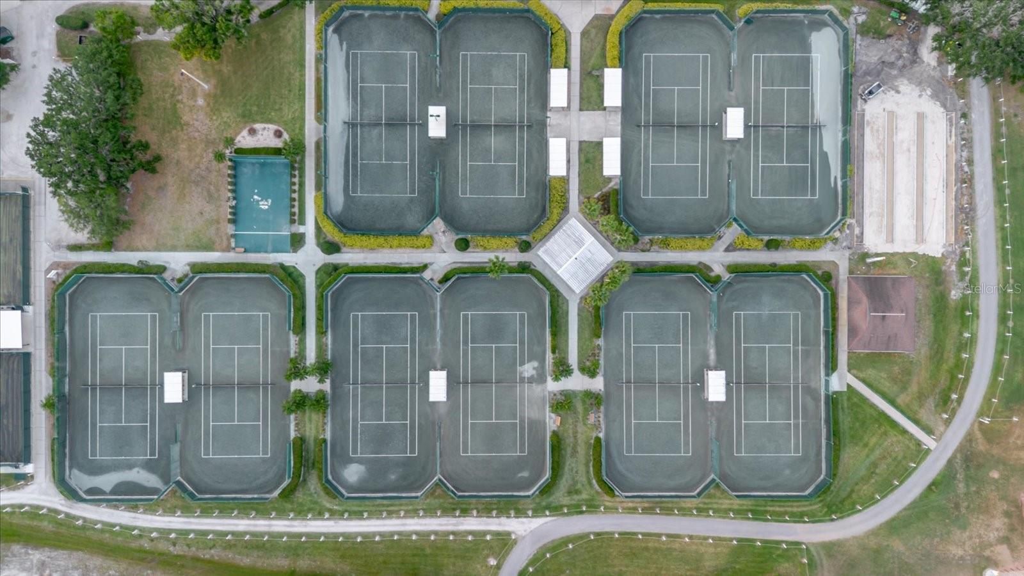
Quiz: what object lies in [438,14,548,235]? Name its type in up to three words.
tennis court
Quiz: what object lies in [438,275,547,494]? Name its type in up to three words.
tennis court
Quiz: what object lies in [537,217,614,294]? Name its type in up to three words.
building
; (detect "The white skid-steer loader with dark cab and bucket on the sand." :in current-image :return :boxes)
[858,80,886,102]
